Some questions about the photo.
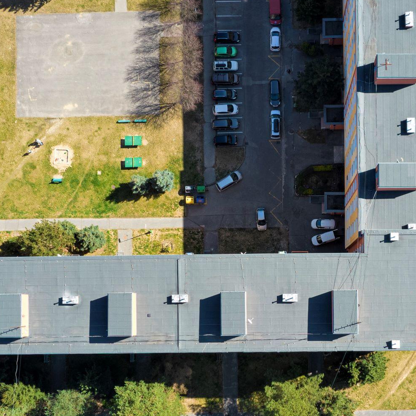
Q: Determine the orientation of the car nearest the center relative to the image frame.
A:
at an angle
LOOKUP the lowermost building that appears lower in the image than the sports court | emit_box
[0,229,416,354]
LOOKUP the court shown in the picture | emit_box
[16,11,161,117]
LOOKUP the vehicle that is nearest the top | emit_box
[268,0,282,26]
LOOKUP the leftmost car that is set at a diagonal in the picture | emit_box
[215,170,242,193]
